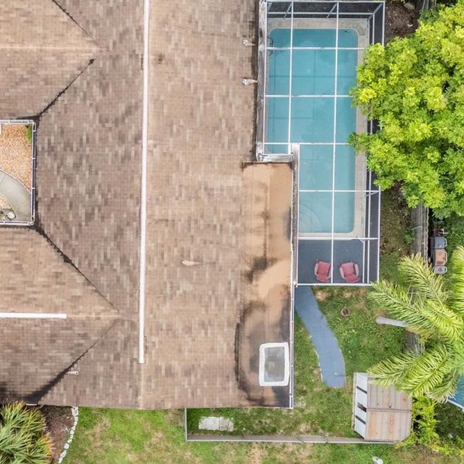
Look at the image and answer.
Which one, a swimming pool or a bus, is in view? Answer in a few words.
swimming pool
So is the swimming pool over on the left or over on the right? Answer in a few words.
right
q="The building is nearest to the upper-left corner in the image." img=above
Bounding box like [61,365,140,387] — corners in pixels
[0,0,297,410]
